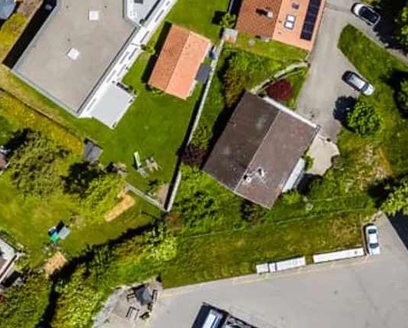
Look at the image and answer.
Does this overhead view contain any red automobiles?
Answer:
No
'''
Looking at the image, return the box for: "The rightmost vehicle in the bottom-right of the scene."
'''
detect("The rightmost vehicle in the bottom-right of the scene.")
[364,221,381,257]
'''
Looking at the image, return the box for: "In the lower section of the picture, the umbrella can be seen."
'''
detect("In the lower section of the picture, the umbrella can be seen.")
[136,284,155,304]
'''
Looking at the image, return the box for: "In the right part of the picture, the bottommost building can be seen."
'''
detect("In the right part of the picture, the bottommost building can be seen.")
[202,90,321,209]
